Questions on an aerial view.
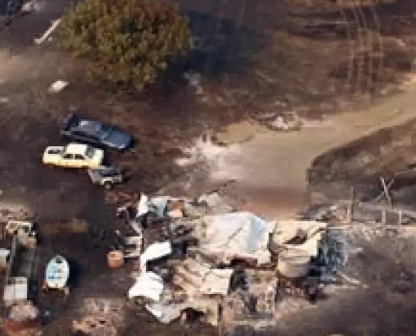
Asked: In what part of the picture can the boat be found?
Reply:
bottom left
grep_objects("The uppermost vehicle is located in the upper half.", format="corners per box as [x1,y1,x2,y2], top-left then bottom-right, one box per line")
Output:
[64,115,132,153]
